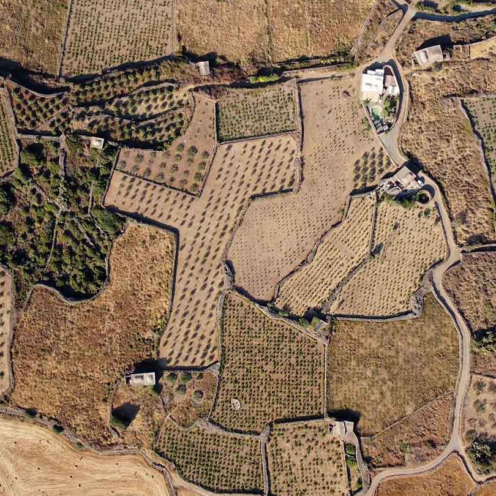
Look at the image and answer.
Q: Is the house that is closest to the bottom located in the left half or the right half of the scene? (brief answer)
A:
right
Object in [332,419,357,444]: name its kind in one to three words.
house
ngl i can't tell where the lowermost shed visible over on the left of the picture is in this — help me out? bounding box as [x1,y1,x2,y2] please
[125,371,156,386]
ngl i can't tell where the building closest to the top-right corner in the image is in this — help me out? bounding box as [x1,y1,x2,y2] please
[412,45,449,67]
